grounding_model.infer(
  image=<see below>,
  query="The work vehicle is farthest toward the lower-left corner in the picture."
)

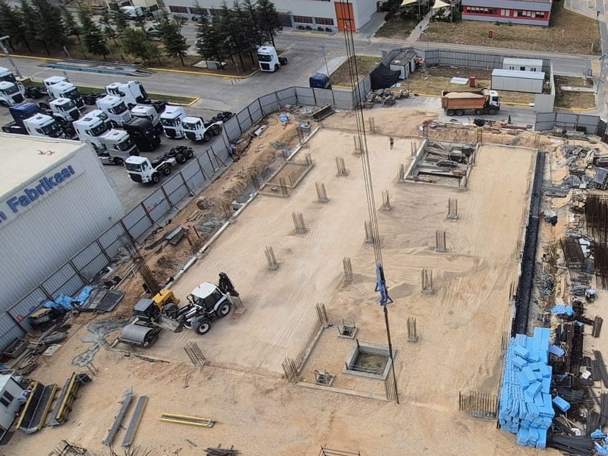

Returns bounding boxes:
[105,289,188,355]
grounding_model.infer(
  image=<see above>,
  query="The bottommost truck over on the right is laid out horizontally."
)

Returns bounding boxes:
[438,92,502,120]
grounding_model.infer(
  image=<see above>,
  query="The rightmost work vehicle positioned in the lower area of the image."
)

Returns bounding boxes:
[157,269,244,355]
